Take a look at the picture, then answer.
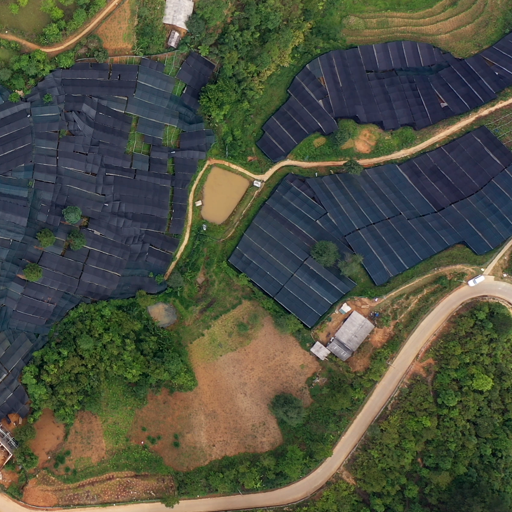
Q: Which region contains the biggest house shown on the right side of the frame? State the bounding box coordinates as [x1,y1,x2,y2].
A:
[327,311,375,361]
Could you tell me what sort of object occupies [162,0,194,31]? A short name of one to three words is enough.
barn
